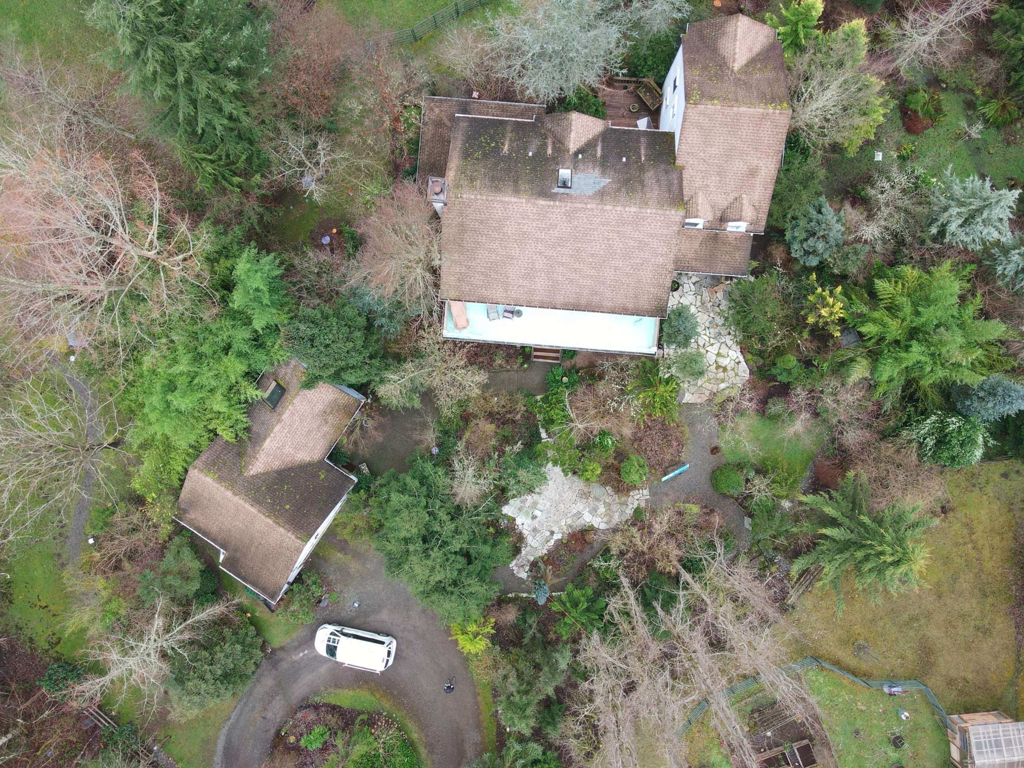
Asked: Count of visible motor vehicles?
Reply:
1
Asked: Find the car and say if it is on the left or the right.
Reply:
left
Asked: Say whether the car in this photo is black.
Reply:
No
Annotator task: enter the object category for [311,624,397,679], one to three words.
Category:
car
